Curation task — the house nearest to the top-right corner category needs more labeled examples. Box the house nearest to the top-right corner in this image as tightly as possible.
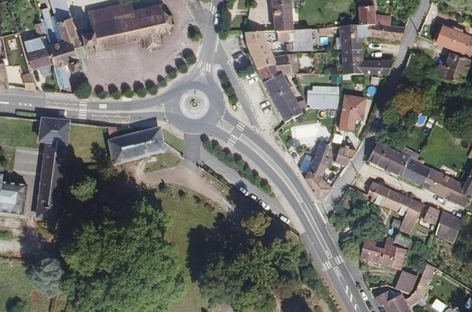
[436,24,472,57]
